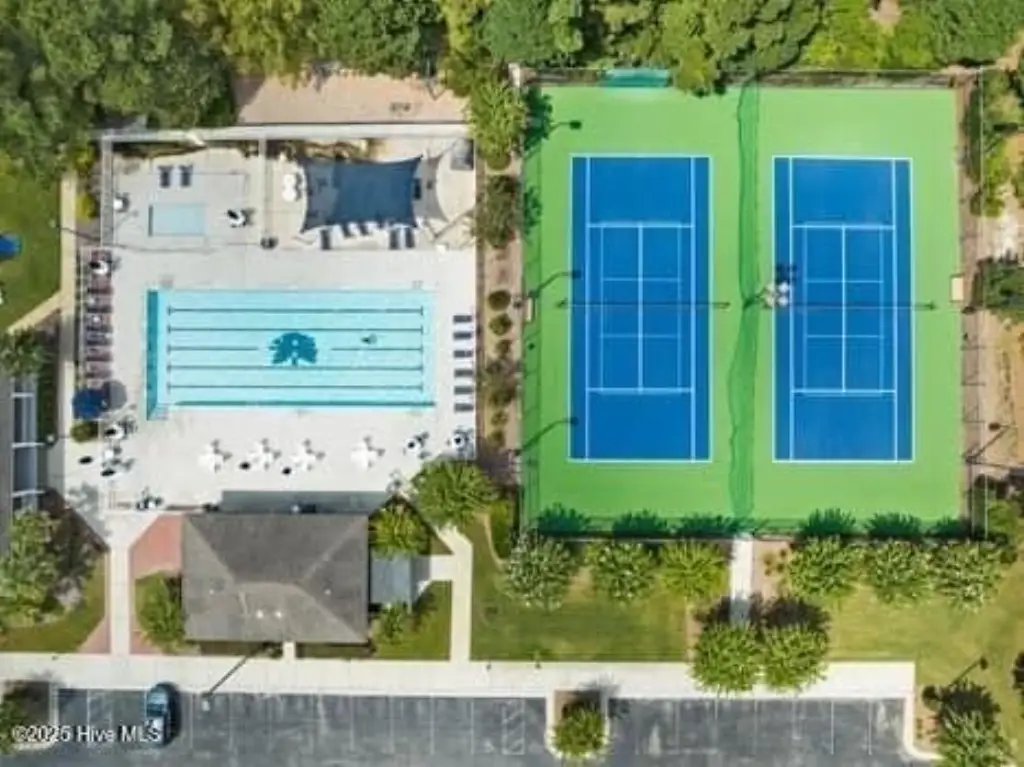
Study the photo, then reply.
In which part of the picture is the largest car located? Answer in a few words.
bottom left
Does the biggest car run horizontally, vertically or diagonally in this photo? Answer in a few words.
vertically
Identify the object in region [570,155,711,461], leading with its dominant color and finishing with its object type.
blue tennis court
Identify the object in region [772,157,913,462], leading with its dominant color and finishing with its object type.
blue tennis court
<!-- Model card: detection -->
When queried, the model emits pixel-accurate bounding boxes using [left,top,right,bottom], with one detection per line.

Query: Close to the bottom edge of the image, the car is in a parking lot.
[144,684,177,747]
